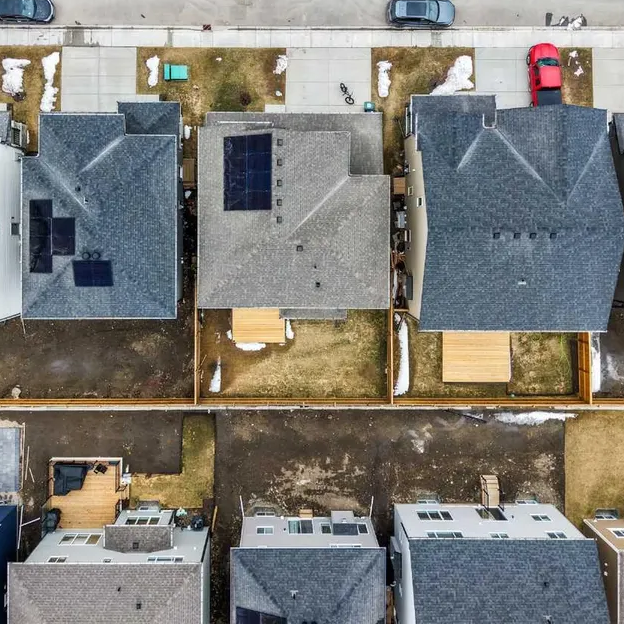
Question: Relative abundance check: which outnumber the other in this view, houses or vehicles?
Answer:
houses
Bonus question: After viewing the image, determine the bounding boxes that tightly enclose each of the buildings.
[197,111,391,323]
[404,94,624,333]
[228,496,388,624]
[390,499,611,624]
[6,502,210,624]
[20,101,186,320]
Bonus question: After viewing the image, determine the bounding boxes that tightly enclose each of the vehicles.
[0,0,56,25]
[527,41,566,106]
[387,0,456,29]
